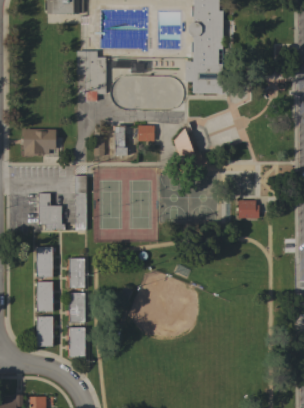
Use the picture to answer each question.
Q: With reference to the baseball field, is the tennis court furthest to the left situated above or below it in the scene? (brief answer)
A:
above it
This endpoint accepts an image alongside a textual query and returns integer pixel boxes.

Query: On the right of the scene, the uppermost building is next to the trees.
[187,0,224,94]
